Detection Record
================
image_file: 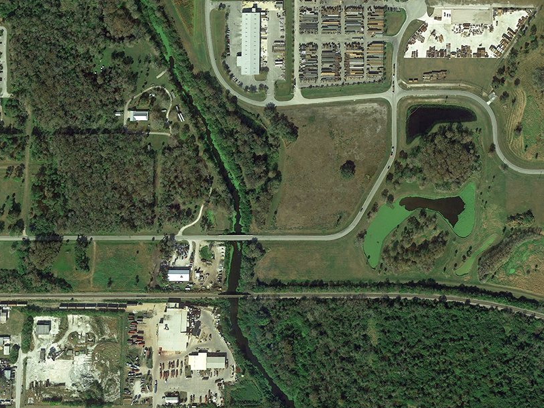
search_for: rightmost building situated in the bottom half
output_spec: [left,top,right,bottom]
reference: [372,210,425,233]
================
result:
[188,352,225,370]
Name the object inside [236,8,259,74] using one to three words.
building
